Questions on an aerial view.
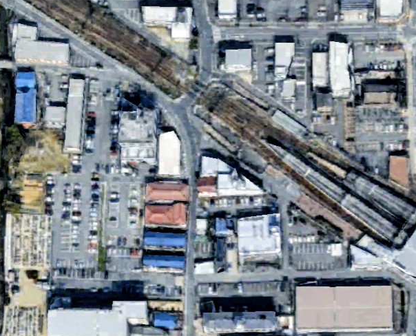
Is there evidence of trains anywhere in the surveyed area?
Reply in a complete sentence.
No, no train can be seen from above.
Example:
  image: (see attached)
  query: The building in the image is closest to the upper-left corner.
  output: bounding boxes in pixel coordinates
[13,24,69,64]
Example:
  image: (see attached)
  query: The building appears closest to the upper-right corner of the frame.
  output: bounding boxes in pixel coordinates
[380,0,402,20]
